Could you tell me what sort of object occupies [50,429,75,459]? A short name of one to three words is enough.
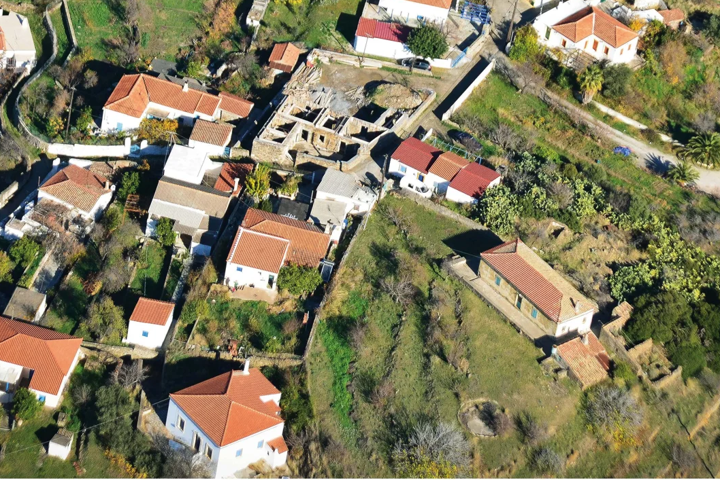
shed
